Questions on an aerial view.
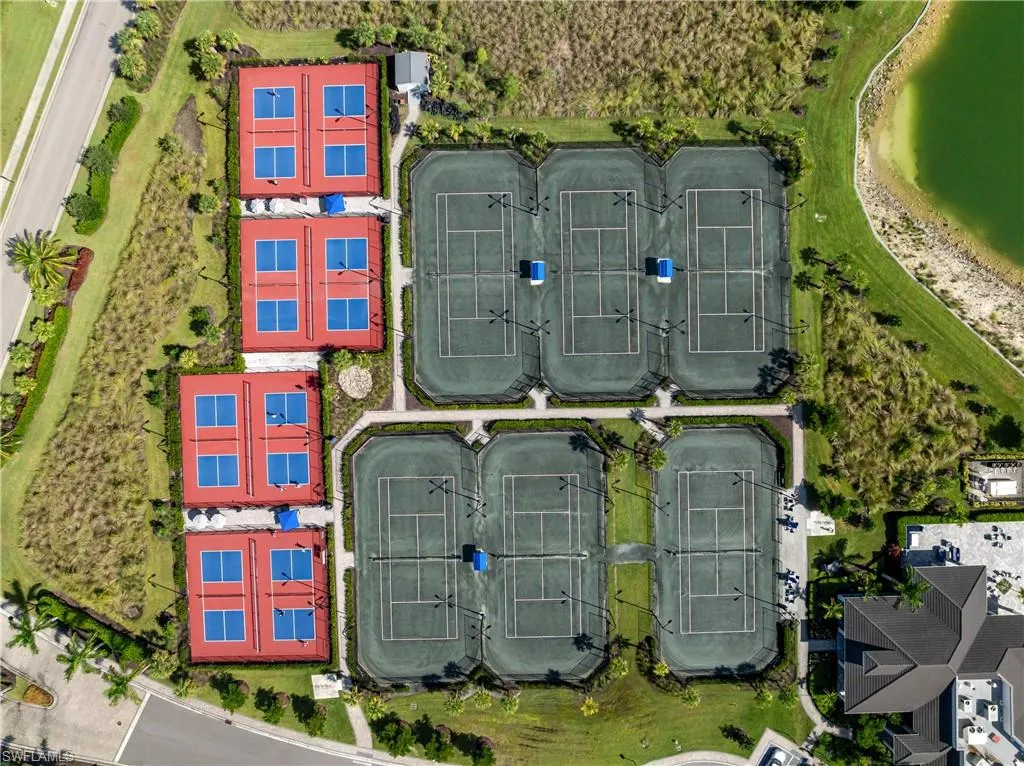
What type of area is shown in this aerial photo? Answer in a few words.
sports ground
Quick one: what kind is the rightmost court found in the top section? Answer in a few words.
tennis court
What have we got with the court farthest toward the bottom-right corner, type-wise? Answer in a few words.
tennis court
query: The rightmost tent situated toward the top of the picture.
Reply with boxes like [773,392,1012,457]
[325,194,351,218]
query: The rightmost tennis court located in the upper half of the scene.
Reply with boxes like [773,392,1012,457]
[661,146,792,397]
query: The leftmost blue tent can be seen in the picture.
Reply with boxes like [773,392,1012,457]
[278,506,305,531]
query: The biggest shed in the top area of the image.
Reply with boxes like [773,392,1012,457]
[395,52,429,94]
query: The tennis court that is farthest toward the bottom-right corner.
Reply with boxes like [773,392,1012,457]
[653,426,779,675]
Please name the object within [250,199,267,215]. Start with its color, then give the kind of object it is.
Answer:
white umbrella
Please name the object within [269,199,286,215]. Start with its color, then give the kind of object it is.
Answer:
white umbrella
